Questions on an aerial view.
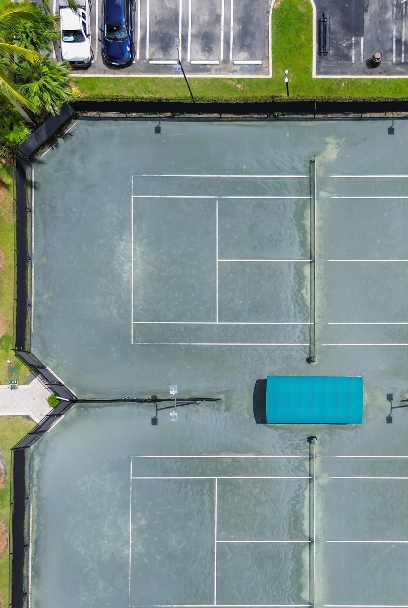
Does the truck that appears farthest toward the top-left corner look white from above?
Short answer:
Yes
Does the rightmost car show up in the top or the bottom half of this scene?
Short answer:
top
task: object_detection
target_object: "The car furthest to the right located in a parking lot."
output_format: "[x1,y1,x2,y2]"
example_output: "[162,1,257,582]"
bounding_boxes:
[98,0,138,66]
